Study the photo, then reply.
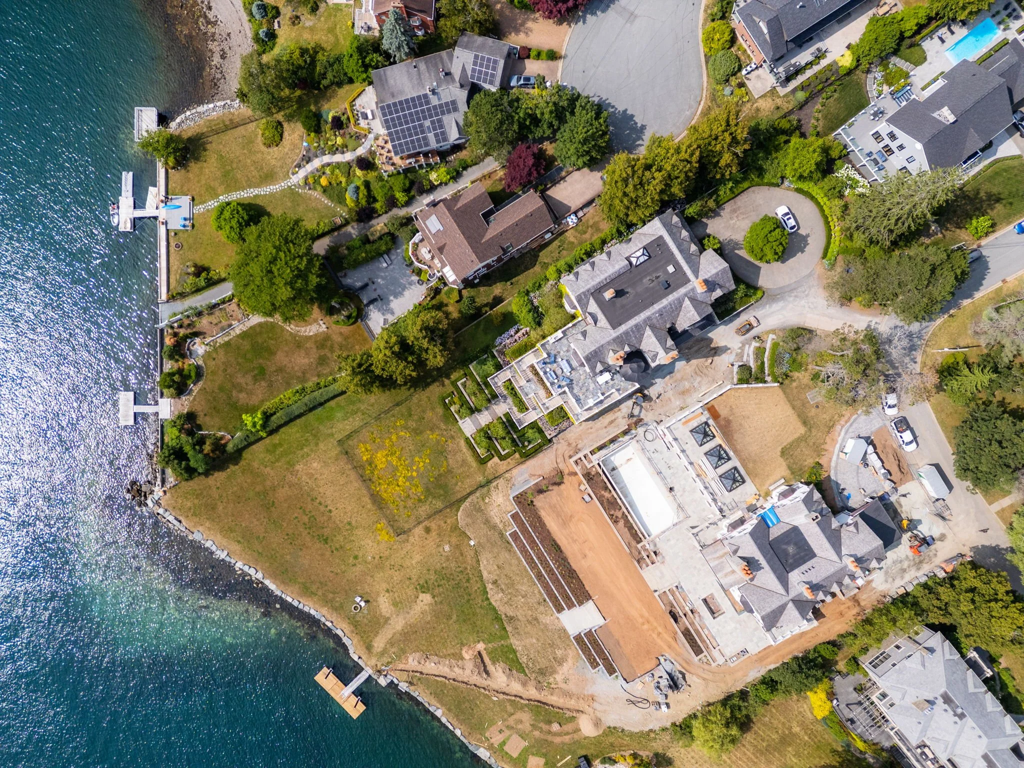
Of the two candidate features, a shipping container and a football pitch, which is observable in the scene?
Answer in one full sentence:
Visible in the photo is a shipping container.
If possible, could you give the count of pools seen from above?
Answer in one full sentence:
Looking from above, you can make out 2 pools.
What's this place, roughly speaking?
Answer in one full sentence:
What you see here is a residential area.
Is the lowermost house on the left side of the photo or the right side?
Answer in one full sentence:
The lowermost house sits on the right side.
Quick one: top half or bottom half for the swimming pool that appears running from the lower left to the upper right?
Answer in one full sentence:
Seen from above, the swimming pool that appears running from the lower left to the upper right lies in the top half of the view.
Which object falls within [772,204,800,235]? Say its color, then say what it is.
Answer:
white car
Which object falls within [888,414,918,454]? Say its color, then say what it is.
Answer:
white truck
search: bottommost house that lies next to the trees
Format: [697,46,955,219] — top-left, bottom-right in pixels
[849,623,1024,768]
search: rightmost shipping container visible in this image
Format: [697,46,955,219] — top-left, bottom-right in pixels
[911,462,949,498]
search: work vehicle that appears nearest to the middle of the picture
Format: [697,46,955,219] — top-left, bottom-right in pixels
[629,388,650,421]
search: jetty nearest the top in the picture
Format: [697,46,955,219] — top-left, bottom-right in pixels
[131,104,159,141]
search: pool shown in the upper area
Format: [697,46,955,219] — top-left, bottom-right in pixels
[941,14,1005,67]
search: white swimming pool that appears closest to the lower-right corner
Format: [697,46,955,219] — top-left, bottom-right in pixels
[598,441,680,540]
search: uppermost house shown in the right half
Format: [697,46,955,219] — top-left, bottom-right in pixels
[730,0,860,83]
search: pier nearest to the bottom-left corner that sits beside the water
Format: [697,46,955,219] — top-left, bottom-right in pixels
[314,665,370,719]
